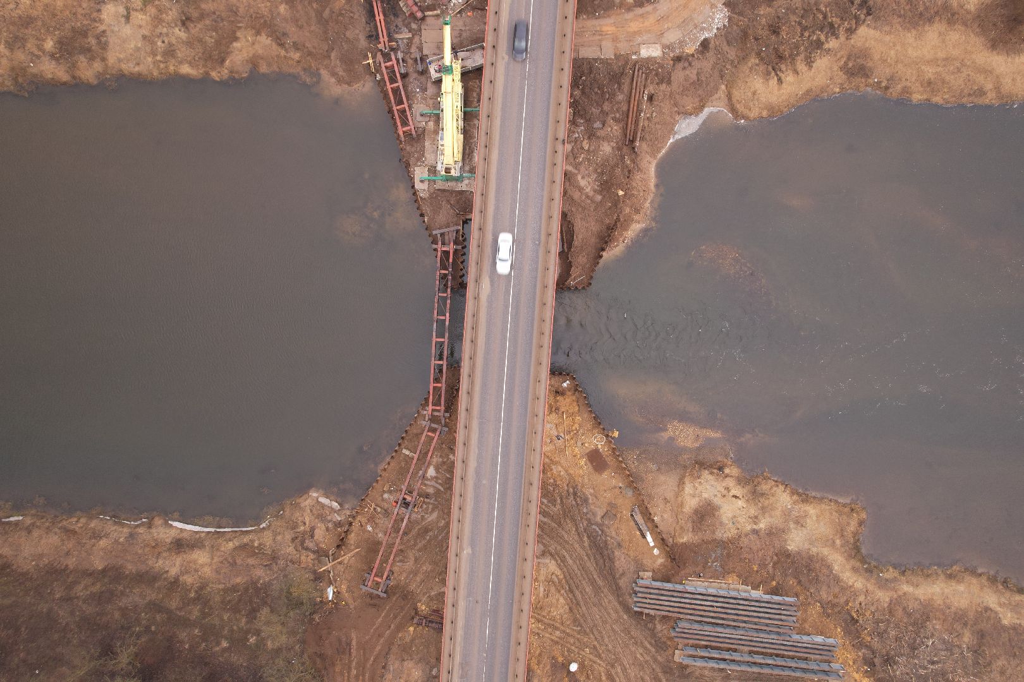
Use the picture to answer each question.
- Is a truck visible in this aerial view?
Yes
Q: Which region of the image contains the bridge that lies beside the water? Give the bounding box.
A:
[439,0,577,682]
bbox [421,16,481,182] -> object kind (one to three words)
truck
